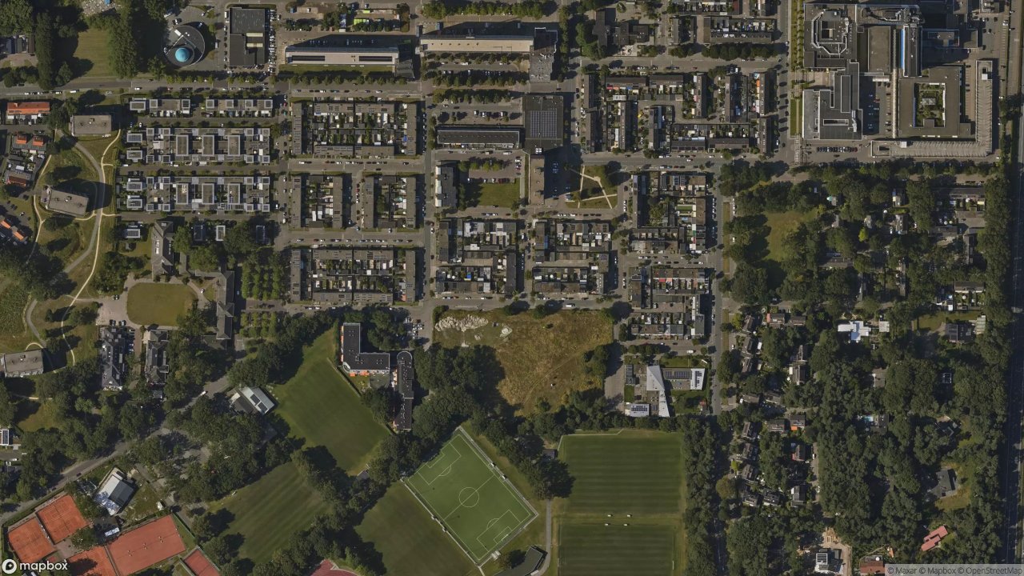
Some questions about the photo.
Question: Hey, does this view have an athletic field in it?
Yes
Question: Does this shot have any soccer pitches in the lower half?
Yes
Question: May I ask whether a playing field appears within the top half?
No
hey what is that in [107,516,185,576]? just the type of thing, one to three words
tennis court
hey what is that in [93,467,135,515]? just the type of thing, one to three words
building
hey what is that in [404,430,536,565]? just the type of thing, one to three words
soccer field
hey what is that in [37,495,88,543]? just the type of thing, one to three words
tennis court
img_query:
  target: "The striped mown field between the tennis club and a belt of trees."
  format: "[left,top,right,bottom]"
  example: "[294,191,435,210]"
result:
[215,464,326,560]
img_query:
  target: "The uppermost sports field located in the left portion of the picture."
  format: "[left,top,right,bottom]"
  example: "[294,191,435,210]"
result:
[280,331,389,474]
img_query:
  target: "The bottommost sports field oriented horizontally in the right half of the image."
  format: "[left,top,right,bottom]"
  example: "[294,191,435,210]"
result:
[559,524,674,576]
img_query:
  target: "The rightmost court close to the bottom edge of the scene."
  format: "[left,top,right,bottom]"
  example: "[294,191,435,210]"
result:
[184,547,217,576]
